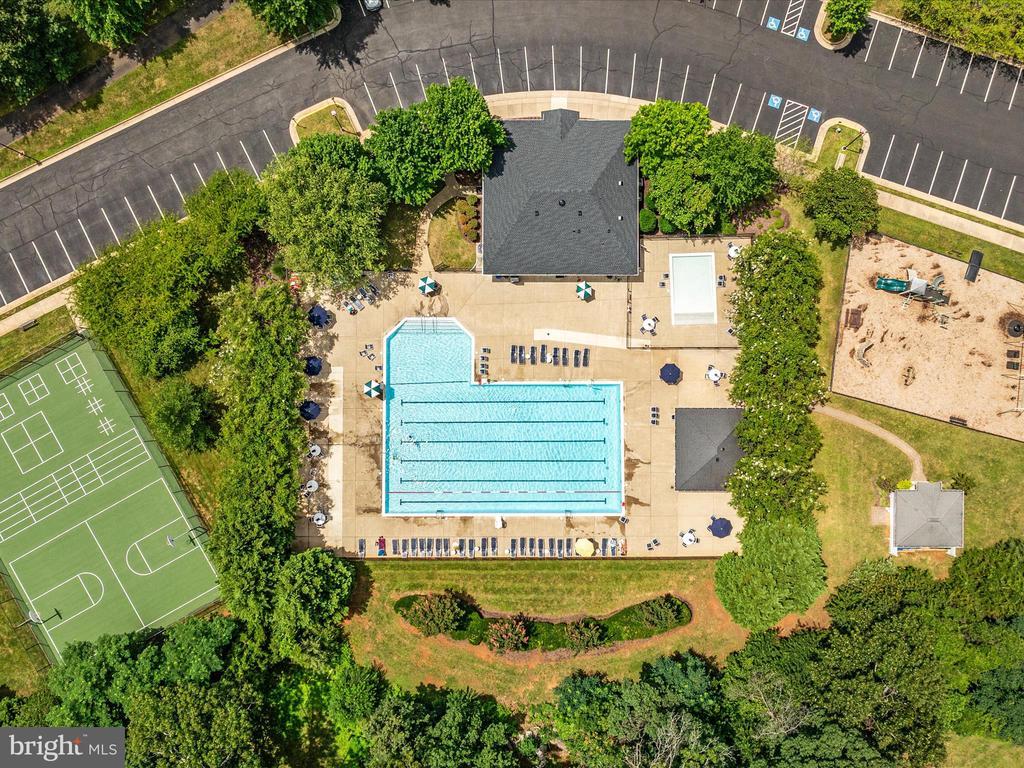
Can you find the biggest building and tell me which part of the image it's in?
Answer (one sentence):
The biggest building appears toward the top of the photo.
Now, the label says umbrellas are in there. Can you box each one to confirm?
[574,537,594,558]
[659,363,680,384]
[307,305,330,328]
[575,281,593,300]
[304,356,323,375]
[418,277,438,295]
[363,381,381,397]
[708,515,732,539]
[300,400,321,420]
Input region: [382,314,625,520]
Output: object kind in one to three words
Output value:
swimming pool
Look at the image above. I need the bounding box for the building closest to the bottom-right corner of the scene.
[885,482,964,554]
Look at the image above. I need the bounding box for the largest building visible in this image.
[482,108,639,275]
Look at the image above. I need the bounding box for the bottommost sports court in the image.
[0,331,228,680]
